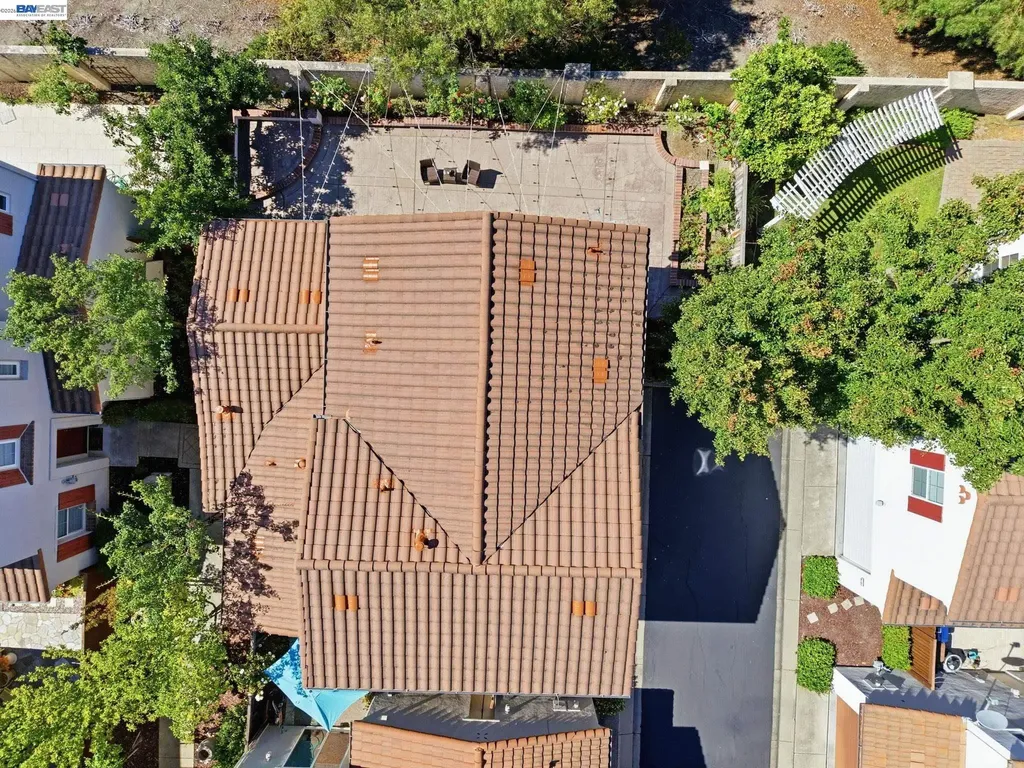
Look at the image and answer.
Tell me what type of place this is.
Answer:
residential area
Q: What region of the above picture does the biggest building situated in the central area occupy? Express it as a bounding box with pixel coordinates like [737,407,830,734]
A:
[184,207,651,704]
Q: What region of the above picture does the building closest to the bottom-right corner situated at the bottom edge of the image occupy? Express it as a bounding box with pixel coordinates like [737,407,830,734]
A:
[832,668,1024,768]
